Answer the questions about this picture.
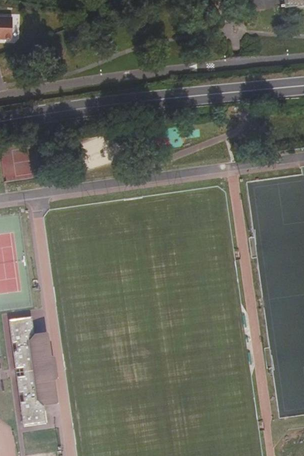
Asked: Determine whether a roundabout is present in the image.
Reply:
No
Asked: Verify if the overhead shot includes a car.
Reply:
No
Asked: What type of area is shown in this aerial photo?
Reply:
sports ground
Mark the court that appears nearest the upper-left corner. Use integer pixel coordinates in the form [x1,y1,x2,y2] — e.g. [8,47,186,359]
[0,146,34,183]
